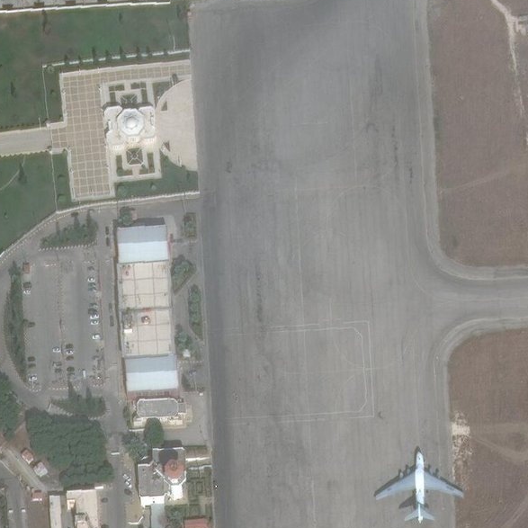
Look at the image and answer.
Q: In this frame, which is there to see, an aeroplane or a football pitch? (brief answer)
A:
aeroplane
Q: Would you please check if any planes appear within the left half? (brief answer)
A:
No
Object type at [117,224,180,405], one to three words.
building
